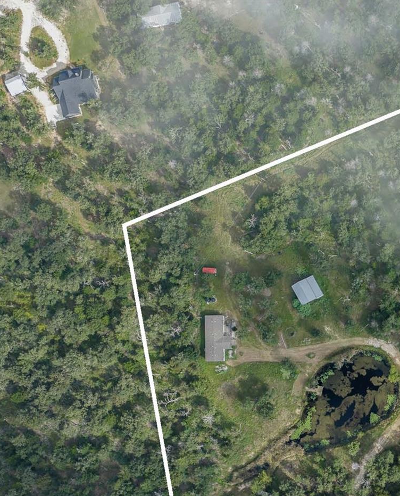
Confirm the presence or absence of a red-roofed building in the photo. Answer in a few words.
No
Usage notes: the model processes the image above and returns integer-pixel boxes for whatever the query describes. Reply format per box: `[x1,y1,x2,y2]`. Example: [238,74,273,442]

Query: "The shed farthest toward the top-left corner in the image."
[5,76,30,98]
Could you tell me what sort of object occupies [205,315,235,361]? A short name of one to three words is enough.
house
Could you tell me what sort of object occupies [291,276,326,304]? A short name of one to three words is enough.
barn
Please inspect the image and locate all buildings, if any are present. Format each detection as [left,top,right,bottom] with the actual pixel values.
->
[52,67,101,119]
[5,76,30,98]
[291,276,326,304]
[205,315,235,361]
[139,2,183,30]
